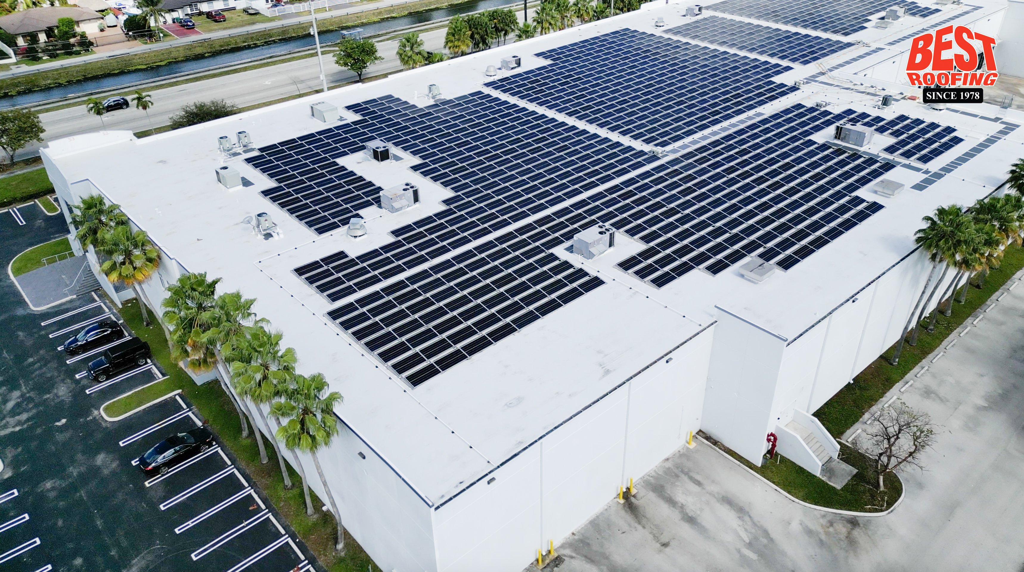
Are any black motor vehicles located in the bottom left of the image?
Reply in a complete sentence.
Yes, a black motor vehicle appears in the bottom left of the image.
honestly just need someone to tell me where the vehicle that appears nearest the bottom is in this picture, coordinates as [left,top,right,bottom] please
[137,430,211,475]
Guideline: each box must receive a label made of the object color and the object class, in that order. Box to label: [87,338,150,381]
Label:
black car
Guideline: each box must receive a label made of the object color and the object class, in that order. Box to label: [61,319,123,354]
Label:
black car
